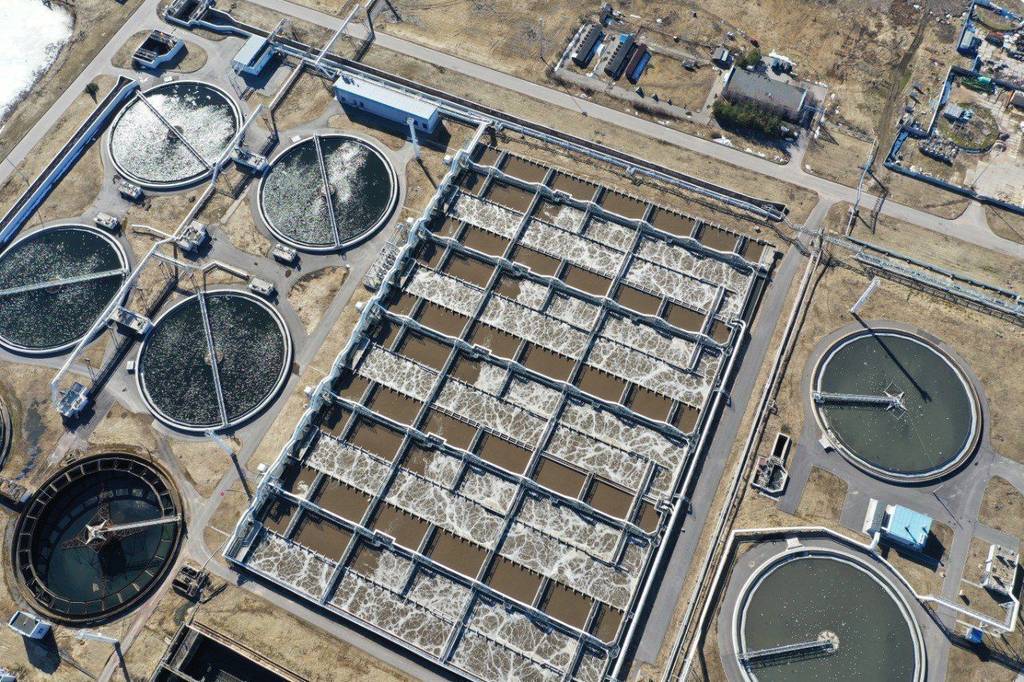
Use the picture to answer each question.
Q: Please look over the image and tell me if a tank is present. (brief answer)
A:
Yes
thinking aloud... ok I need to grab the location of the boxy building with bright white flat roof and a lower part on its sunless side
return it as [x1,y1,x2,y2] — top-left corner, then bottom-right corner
[222,34,278,79]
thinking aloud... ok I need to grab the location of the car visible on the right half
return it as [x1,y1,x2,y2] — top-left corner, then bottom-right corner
[681,56,699,68]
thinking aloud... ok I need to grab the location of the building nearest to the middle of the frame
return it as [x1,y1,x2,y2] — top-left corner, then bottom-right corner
[363,217,408,293]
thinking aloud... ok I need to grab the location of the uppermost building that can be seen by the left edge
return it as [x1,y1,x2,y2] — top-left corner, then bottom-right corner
[8,611,50,637]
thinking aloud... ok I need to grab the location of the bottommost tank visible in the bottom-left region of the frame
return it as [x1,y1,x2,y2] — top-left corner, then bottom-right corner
[12,454,189,623]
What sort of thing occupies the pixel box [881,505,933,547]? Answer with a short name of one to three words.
house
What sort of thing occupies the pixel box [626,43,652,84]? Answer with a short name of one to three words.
shed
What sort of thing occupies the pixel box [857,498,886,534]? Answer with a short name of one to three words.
house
